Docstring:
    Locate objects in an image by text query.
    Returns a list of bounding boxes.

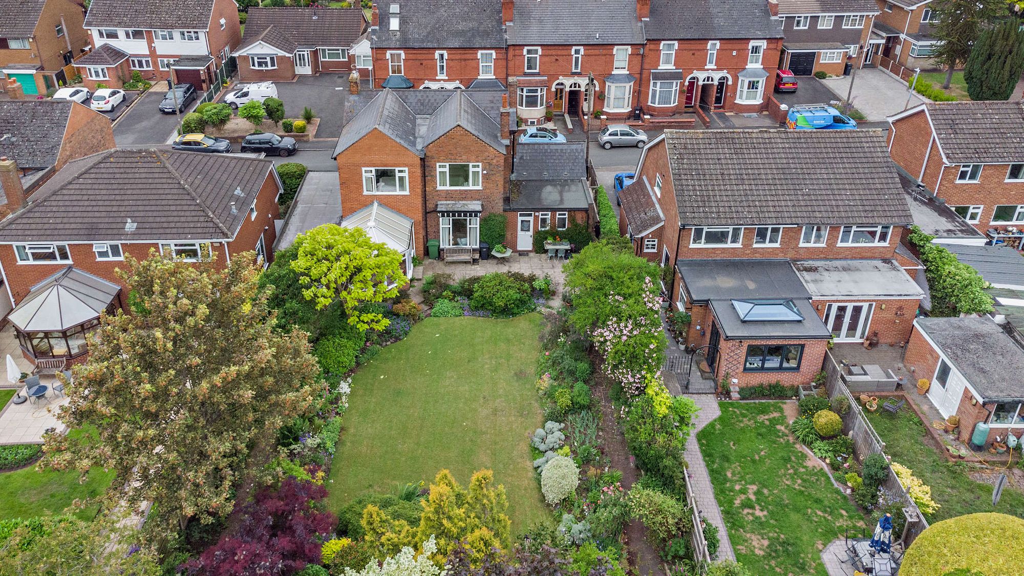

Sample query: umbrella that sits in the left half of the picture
[0,355,26,405]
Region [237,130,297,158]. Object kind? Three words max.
car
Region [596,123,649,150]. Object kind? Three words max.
car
